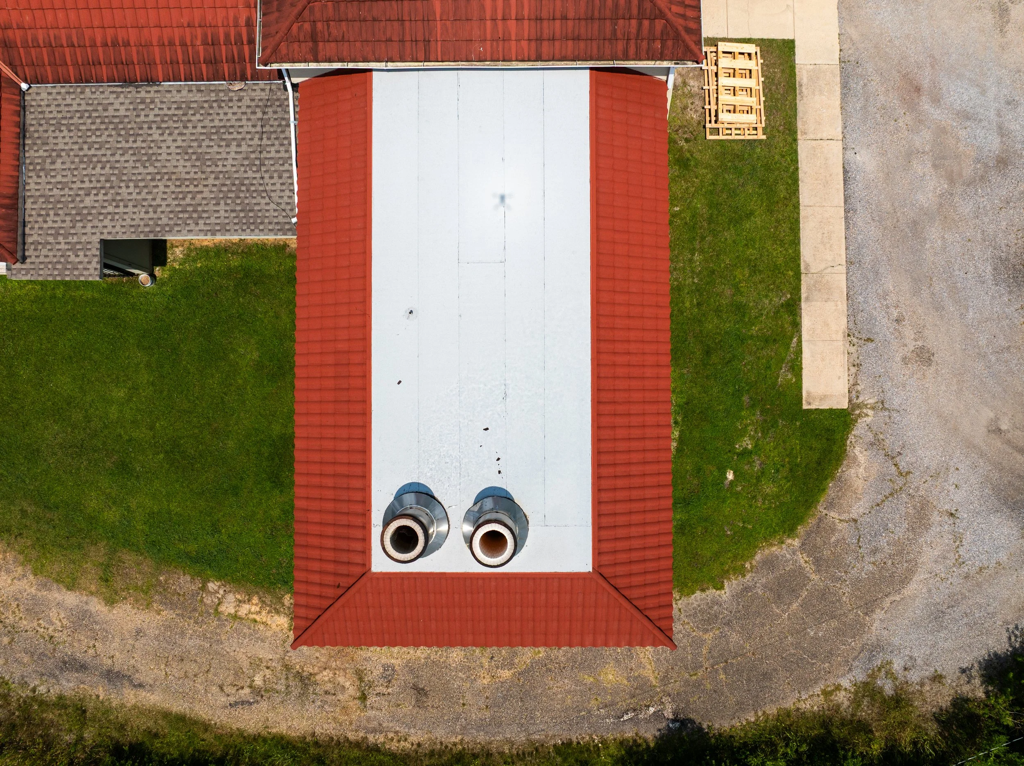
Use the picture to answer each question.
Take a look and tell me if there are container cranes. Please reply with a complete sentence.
No, no container crane is visible in the scene.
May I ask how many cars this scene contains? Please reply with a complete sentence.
There are no cars in the image.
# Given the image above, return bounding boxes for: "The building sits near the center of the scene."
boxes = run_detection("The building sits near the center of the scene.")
[288,70,679,652]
